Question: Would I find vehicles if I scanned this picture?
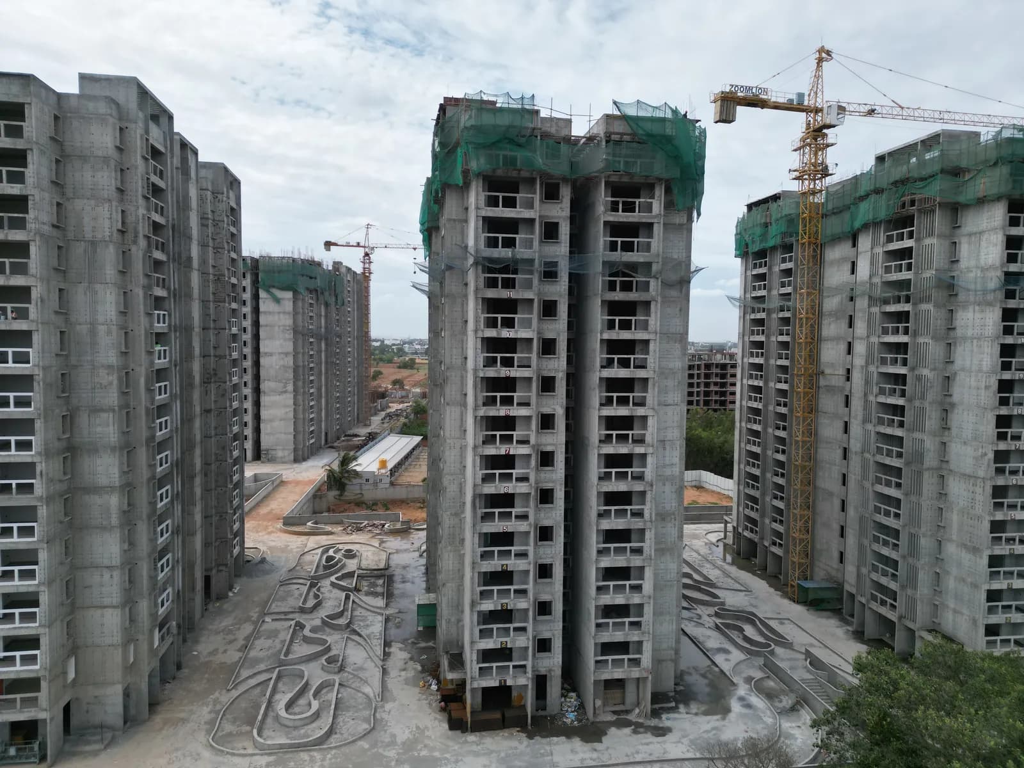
No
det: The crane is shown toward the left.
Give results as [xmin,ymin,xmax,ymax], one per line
[326,223,430,424]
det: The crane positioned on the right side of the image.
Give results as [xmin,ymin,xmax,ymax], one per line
[704,44,1024,606]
